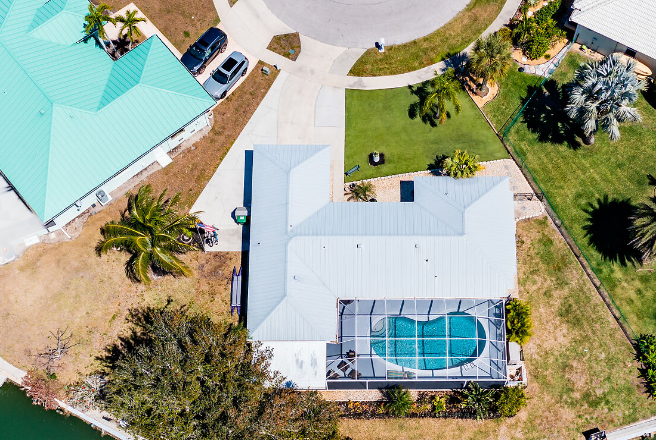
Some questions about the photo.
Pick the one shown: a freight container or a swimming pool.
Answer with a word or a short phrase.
swimming pool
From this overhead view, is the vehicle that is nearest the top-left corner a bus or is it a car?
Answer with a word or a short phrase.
car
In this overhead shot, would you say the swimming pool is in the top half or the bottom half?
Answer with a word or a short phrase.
bottom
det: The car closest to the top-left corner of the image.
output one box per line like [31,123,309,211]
[181,27,229,77]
